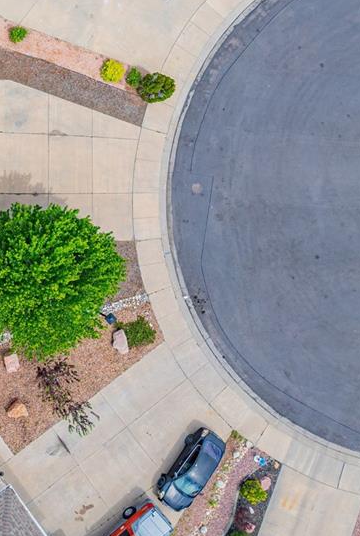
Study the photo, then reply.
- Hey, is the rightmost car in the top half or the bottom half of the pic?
bottom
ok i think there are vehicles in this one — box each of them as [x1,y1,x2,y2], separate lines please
[159,433,227,512]
[106,500,174,536]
